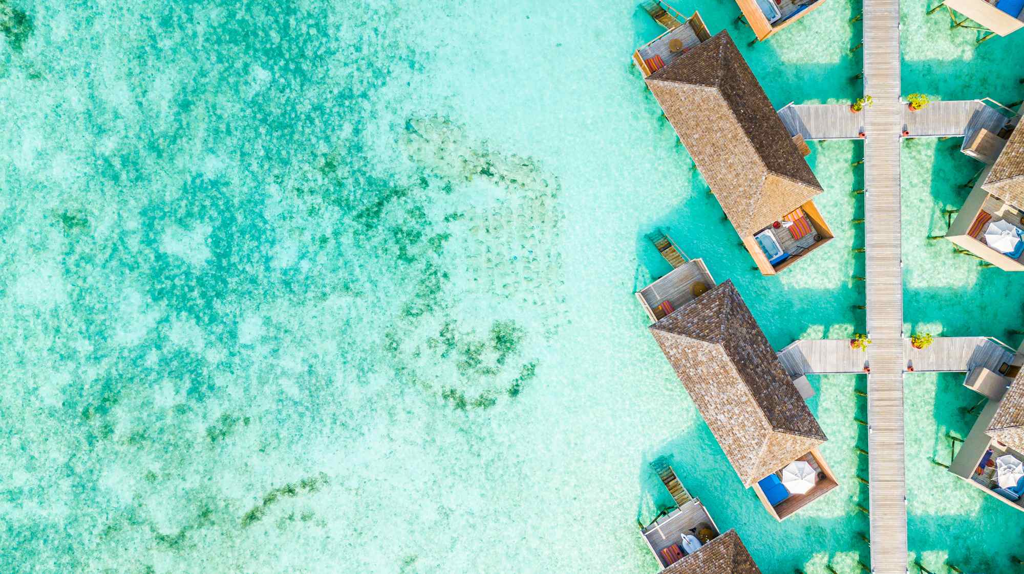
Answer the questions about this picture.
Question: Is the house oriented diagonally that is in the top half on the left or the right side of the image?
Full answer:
The house oriented diagonally that is in the top half is on the right side of the image.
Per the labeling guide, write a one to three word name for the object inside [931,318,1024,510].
house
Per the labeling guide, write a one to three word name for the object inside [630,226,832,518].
house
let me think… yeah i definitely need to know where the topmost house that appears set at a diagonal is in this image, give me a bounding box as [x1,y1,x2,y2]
[627,0,833,274]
